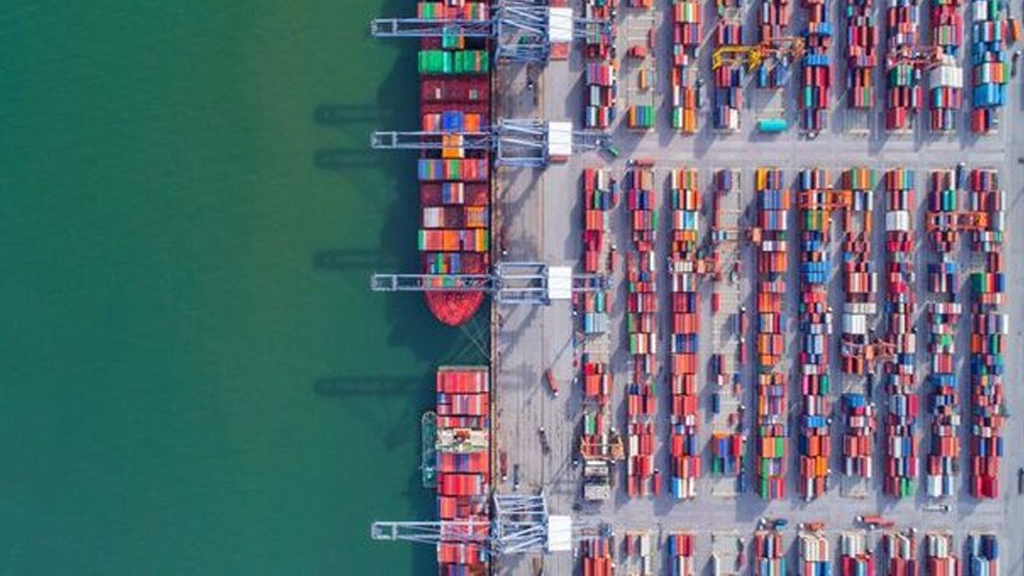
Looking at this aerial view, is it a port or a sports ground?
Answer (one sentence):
The picture captures a port.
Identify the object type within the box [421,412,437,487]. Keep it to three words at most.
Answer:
vessel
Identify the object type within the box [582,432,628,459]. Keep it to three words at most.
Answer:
crane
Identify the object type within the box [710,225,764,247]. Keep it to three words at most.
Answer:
crane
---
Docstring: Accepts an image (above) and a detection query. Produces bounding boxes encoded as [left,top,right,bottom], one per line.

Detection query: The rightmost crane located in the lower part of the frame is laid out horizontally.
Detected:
[839,336,899,359]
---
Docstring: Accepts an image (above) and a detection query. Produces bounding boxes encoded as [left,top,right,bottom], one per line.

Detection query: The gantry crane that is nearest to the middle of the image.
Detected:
[372,262,611,304]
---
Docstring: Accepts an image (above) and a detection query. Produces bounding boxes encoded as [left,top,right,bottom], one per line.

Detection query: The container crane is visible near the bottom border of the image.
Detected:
[372,485,611,551]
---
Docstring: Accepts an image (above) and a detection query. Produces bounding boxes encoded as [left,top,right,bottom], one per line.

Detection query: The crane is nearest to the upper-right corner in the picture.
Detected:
[882,46,945,77]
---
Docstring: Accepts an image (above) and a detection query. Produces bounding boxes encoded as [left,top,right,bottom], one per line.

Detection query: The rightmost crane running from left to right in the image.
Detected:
[925,213,990,235]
